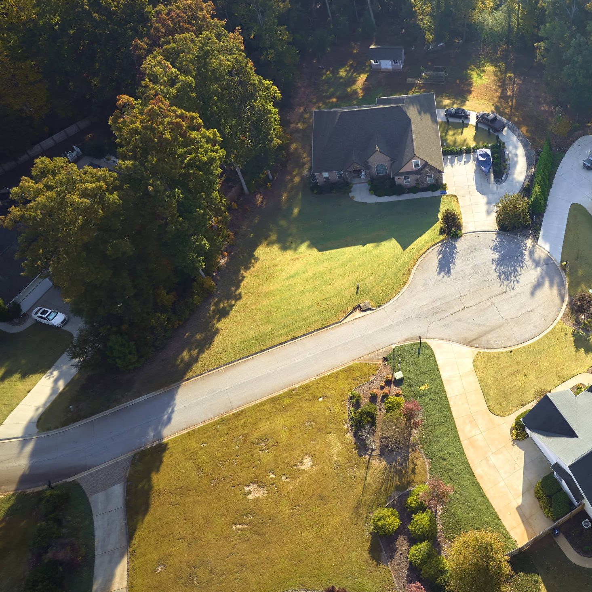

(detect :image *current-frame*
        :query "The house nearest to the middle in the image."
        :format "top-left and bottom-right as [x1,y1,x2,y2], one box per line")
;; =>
[309,92,443,186]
